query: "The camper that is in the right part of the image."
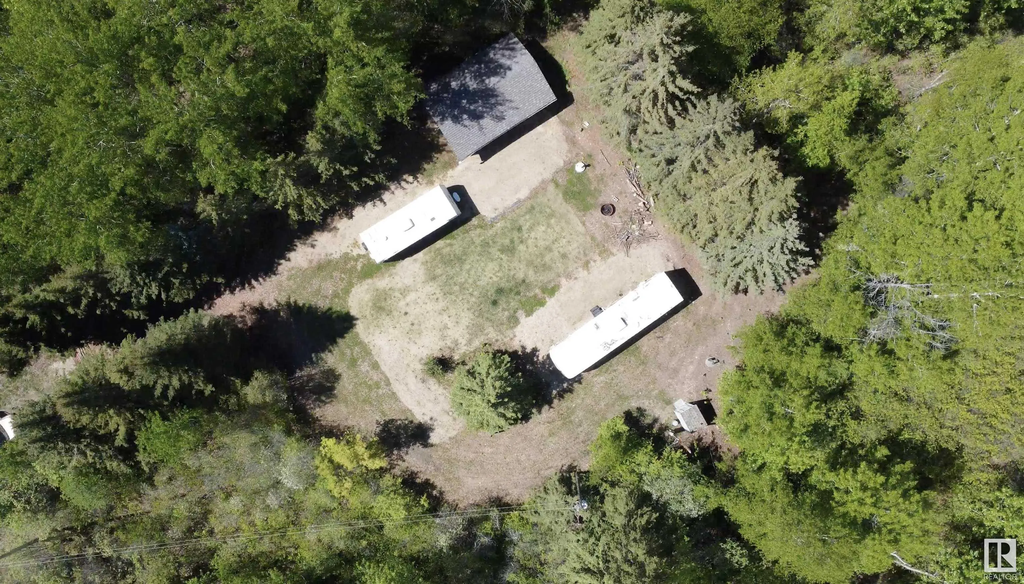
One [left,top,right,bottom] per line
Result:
[552,273,685,378]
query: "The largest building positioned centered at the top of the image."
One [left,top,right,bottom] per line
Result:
[422,31,556,164]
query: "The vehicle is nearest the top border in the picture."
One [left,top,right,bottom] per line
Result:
[361,184,470,263]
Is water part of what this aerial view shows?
No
